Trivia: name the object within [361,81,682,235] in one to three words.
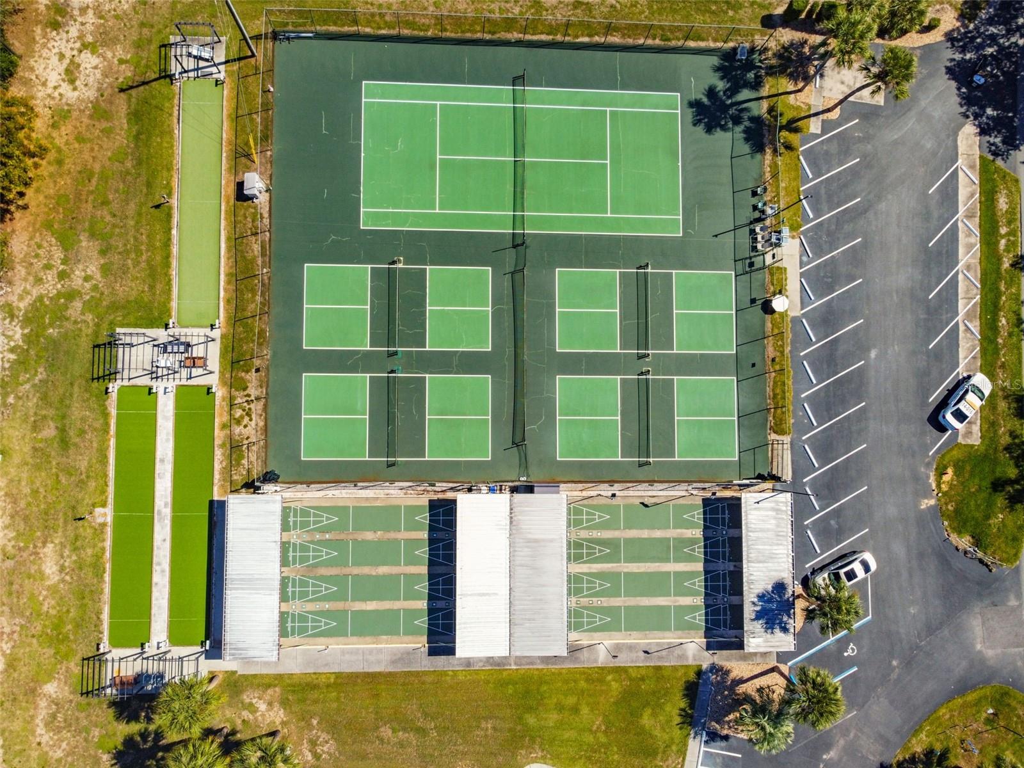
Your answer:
tennis court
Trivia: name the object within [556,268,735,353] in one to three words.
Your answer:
sports court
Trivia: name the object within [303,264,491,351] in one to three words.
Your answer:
sports court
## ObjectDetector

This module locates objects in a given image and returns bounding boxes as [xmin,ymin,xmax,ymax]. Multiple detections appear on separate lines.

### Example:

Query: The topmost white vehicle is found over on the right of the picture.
[940,374,990,431]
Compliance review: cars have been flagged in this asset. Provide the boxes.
[940,374,990,431]
[811,550,876,591]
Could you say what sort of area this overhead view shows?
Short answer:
sports ground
